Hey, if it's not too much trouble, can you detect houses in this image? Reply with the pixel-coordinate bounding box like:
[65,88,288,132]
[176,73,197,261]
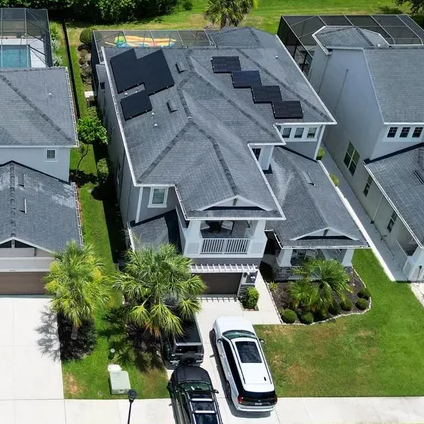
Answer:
[0,65,85,292]
[102,29,373,298]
